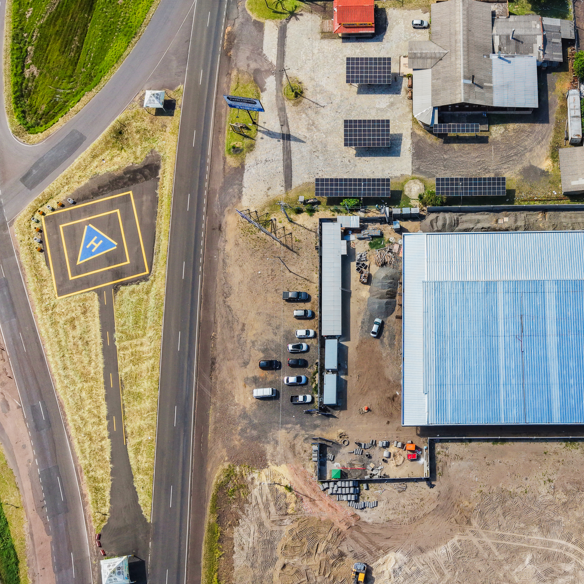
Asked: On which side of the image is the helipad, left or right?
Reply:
left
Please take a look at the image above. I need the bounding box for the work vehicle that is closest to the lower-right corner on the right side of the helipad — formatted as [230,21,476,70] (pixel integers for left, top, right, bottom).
[350,557,369,584]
